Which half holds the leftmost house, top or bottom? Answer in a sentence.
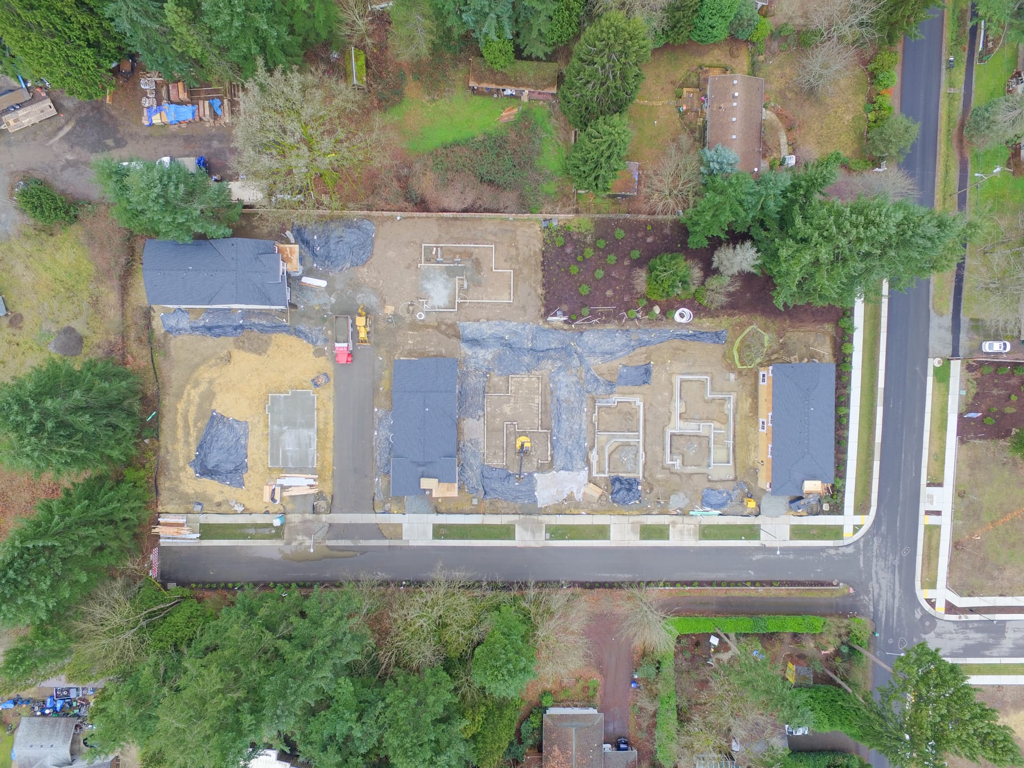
The leftmost house sits in the bottom half of the picture.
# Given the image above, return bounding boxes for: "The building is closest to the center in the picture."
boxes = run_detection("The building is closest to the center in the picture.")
[390,358,458,499]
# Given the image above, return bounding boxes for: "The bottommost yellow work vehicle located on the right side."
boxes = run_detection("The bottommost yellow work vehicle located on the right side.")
[735,495,758,508]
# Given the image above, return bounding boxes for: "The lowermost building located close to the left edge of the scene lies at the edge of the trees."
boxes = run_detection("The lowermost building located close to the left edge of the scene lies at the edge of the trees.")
[8,714,110,768]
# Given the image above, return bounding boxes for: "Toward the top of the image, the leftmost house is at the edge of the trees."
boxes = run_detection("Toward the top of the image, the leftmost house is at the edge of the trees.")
[138,237,296,309]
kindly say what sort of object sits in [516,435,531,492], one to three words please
work vehicle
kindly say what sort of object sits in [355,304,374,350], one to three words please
work vehicle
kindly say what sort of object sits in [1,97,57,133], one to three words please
trailer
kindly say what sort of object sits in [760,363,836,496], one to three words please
house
